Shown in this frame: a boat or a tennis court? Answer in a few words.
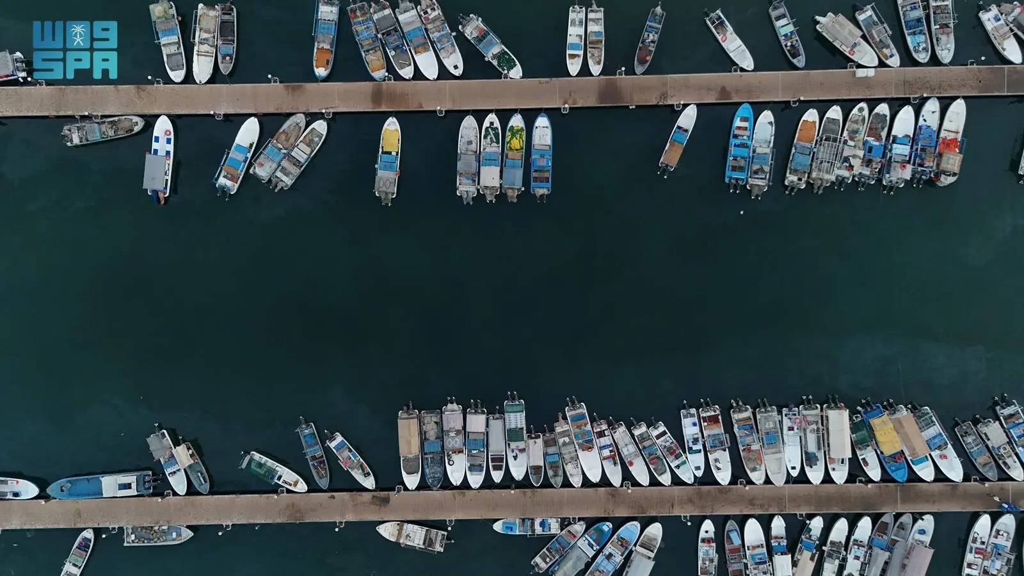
boat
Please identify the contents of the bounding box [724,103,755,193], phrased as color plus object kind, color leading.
blue boat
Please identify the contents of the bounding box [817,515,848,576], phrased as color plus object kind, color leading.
white boat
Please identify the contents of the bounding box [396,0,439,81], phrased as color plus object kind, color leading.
white boat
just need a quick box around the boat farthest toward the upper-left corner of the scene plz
[0,51,36,80]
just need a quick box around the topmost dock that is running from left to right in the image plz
[0,58,1024,123]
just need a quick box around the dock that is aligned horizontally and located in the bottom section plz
[0,474,1024,537]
